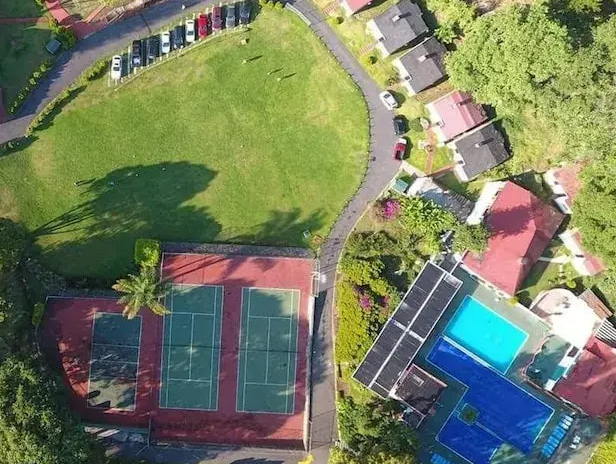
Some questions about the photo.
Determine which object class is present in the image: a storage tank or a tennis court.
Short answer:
tennis court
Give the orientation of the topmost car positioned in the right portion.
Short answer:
on a diagonal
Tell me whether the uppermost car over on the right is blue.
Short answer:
No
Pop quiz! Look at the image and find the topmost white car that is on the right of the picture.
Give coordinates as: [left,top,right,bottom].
[377,88,398,112]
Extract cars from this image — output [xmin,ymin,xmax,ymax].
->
[185,19,195,43]
[225,5,236,30]
[238,1,251,26]
[393,115,405,137]
[173,24,185,51]
[146,37,158,63]
[377,88,398,112]
[160,32,171,54]
[198,15,208,39]
[111,55,122,80]
[212,6,223,31]
[131,41,142,65]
